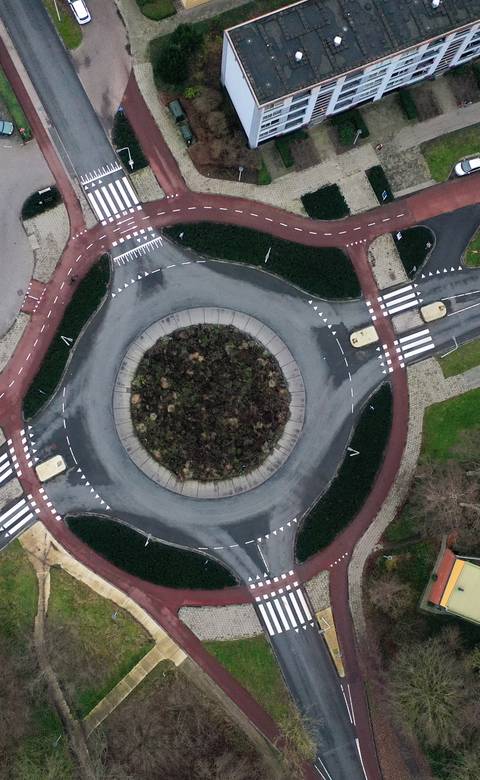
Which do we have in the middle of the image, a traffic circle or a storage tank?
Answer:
traffic circle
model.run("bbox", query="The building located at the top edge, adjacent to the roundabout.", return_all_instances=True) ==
[219,0,480,149]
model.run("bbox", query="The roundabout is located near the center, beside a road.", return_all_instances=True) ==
[22,229,392,584]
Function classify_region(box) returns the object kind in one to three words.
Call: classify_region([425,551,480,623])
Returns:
house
